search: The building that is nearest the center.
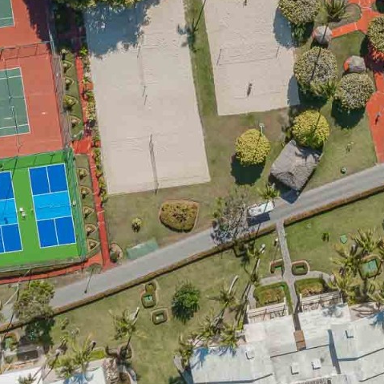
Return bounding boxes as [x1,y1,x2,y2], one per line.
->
[270,139,323,193]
